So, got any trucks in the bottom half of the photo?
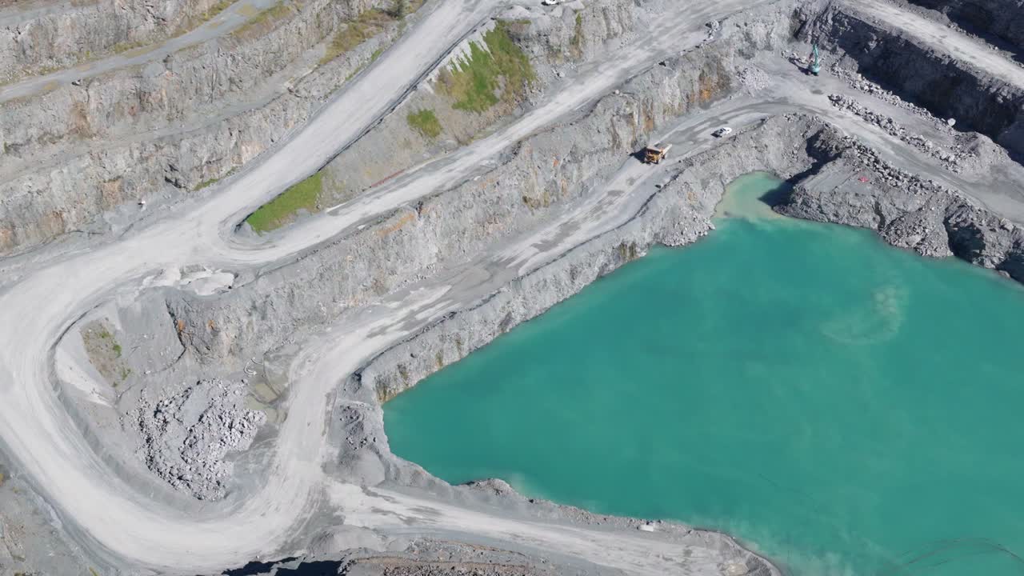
No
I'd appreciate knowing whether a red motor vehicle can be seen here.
No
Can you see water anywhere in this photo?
Yes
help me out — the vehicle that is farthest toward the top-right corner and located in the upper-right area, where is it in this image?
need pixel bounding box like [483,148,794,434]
[809,50,821,76]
